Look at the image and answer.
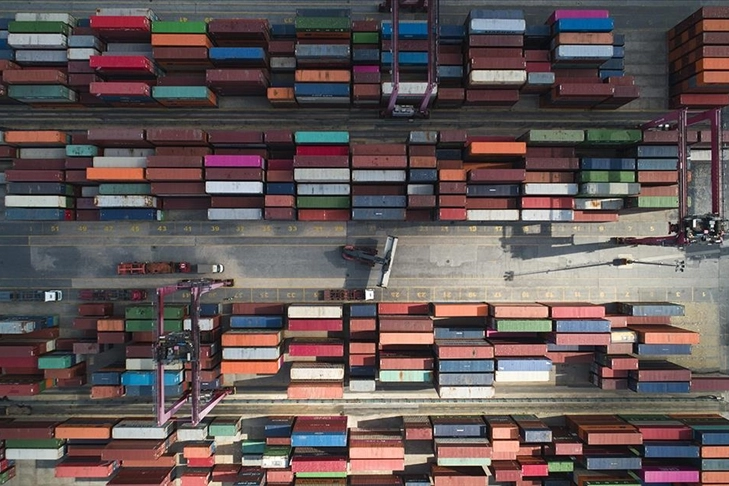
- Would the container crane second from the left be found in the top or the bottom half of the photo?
top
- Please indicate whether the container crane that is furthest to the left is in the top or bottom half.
bottom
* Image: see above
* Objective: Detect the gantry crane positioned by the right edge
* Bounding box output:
[614,102,729,250]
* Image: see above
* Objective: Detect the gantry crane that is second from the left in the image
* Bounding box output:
[380,0,439,115]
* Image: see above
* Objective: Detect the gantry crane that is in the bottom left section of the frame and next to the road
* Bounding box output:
[150,280,238,427]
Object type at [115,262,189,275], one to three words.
vehicle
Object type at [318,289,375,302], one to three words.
vehicle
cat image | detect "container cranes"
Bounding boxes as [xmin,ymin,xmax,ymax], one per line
[150,280,238,427]
[380,0,439,115]
[614,102,729,250]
